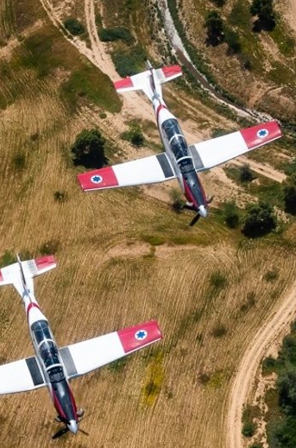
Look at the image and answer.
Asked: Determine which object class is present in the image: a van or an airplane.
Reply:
airplane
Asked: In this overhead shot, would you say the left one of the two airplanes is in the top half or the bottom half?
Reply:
bottom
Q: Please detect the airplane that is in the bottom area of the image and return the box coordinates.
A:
[0,255,163,442]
